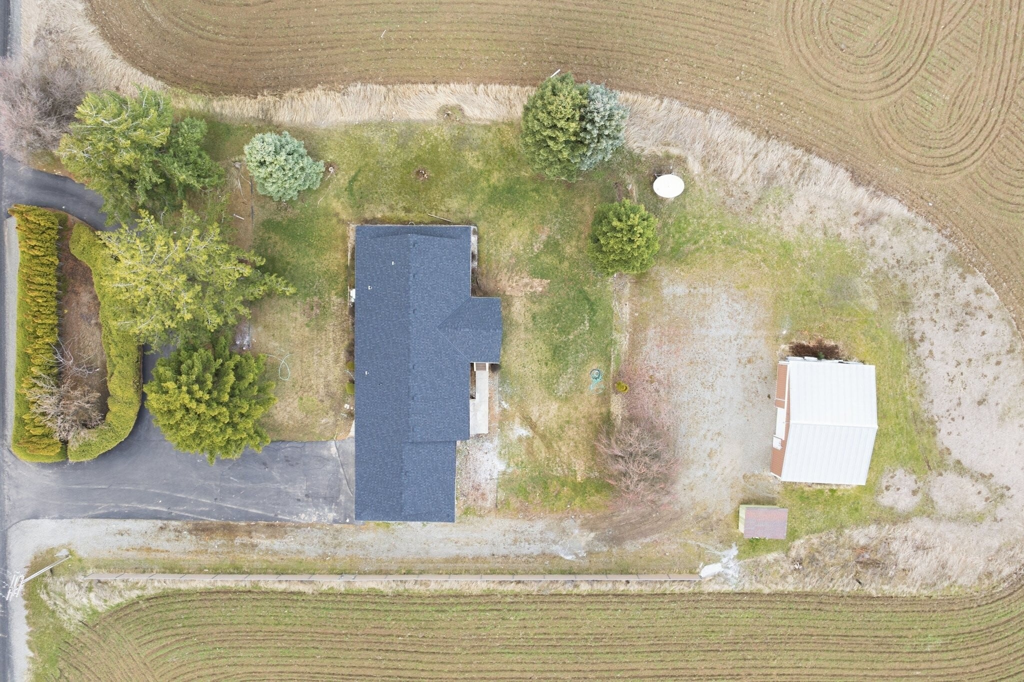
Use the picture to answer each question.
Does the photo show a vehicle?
No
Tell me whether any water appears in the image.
No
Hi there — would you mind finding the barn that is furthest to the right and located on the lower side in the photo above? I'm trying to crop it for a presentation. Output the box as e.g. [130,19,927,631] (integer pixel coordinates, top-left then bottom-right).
[770,360,880,486]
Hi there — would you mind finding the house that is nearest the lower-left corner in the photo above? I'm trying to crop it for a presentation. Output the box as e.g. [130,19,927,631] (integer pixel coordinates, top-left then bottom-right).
[354,225,502,522]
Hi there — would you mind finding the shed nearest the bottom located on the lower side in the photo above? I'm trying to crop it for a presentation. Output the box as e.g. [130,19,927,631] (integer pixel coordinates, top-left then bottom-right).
[739,505,789,539]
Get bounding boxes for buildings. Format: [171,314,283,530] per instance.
[739,505,789,539]
[770,360,880,486]
[354,225,502,522]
